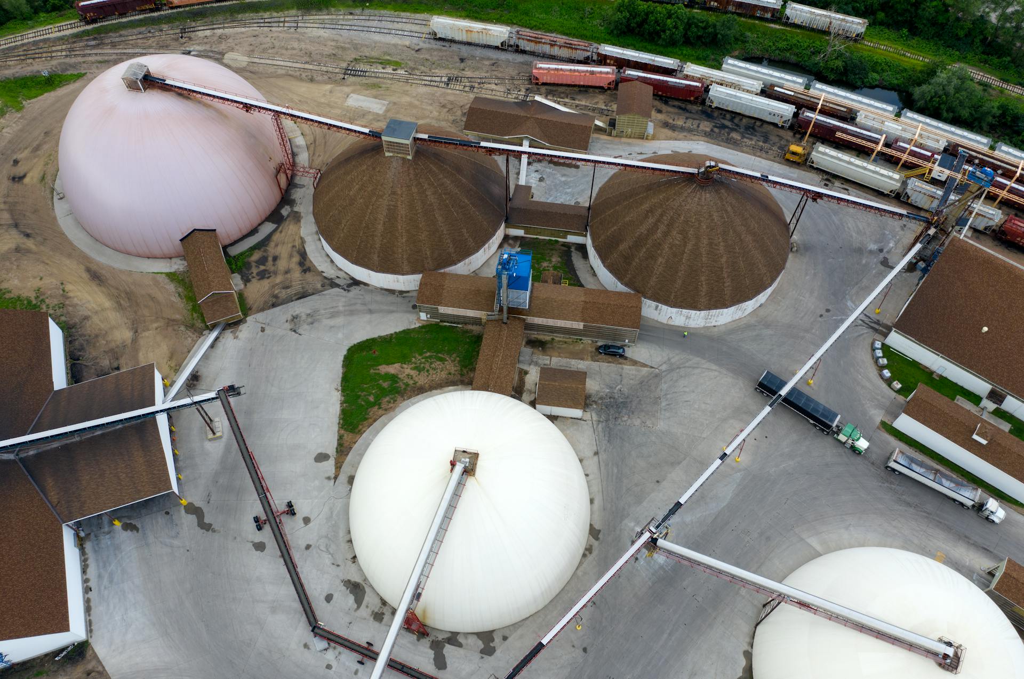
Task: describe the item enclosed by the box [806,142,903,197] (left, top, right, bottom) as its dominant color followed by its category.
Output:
gray rail car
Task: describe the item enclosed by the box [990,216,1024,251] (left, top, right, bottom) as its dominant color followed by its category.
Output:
red rail car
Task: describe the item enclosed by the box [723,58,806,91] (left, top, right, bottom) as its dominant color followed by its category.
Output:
gray rail car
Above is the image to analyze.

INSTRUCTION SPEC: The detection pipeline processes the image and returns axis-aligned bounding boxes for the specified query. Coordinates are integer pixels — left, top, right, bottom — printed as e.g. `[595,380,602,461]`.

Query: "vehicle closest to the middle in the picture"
[597,344,625,358]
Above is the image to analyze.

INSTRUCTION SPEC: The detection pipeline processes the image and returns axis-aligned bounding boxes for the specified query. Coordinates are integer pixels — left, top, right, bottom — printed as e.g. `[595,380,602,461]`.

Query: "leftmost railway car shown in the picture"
[77,0,165,21]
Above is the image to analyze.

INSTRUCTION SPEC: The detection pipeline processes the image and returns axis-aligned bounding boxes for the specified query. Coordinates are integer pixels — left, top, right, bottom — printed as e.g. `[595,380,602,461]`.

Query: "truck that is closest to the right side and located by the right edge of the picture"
[885,448,1005,525]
